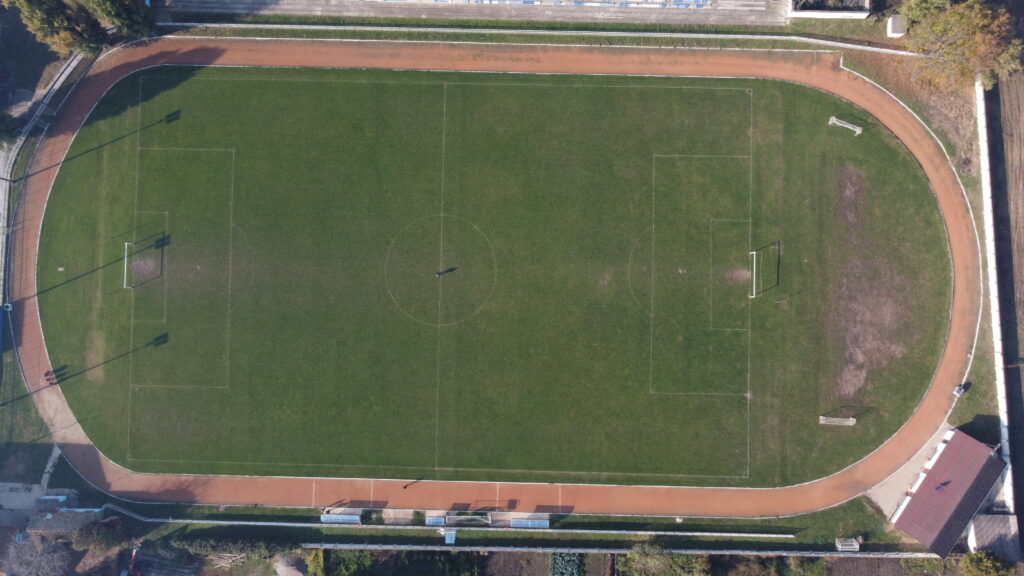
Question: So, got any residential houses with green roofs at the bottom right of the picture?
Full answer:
No, no residential house with a green roof is visible at the bottom right of the picture.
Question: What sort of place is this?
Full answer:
The area seen from above is a sports ground.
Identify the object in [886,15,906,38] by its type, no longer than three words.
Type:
shed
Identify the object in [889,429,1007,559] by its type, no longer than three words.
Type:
house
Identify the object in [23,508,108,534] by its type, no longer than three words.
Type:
shed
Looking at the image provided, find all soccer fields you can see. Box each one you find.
[36,65,953,488]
